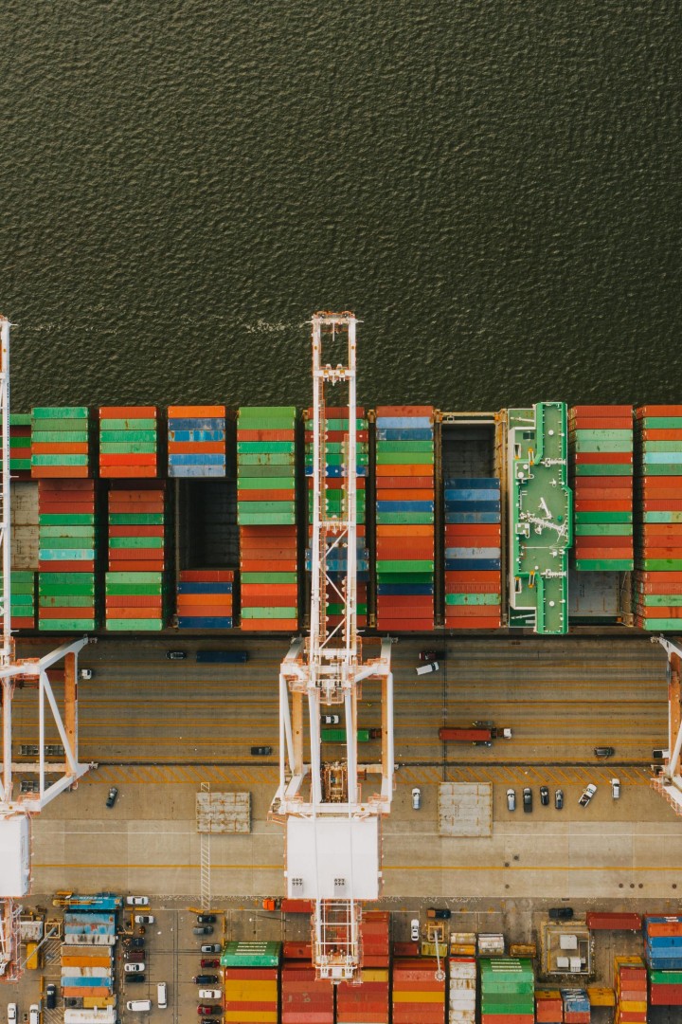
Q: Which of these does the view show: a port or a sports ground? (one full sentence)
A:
The area seen from above is a port.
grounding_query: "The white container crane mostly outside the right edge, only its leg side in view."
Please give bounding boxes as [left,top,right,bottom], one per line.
[642,636,682,823]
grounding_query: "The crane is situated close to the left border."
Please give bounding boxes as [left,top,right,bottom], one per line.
[0,311,103,982]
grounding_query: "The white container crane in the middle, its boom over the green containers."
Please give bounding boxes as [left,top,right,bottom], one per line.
[268,309,399,988]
